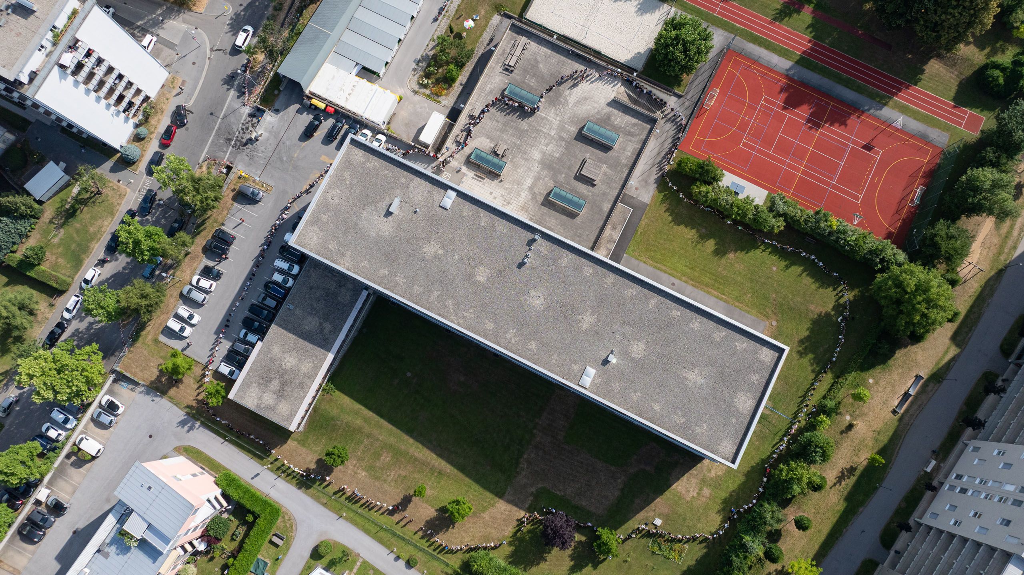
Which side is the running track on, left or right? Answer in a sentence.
You can find the running track on the right side of the picture.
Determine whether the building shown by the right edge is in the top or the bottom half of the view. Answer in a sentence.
The building shown by the right edge is in the bottom half of the image.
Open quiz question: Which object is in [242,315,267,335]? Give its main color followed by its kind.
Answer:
black car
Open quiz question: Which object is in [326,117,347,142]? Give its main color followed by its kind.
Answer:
black car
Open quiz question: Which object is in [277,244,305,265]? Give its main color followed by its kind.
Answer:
black vehicle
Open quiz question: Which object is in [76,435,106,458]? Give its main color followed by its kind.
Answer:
white vehicle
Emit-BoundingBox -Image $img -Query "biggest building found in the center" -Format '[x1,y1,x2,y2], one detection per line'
[290,135,788,470]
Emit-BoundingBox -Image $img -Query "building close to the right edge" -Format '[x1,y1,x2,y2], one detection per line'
[902,309,1024,575]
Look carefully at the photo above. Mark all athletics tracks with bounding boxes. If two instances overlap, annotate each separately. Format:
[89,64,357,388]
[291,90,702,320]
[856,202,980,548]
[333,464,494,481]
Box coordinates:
[686,0,984,134]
